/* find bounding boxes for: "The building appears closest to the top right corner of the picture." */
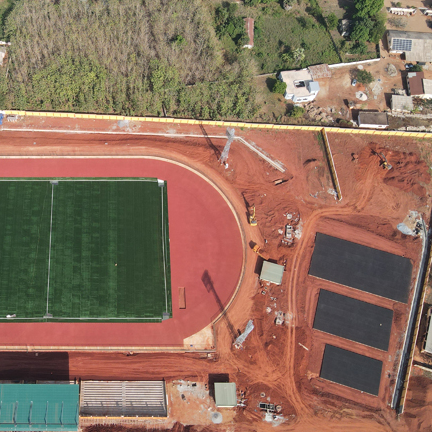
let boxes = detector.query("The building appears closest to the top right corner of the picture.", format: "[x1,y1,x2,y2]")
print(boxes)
[386,30,432,67]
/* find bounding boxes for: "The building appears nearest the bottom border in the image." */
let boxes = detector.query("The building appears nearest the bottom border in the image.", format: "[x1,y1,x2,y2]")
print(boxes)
[213,382,237,406]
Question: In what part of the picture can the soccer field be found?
left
